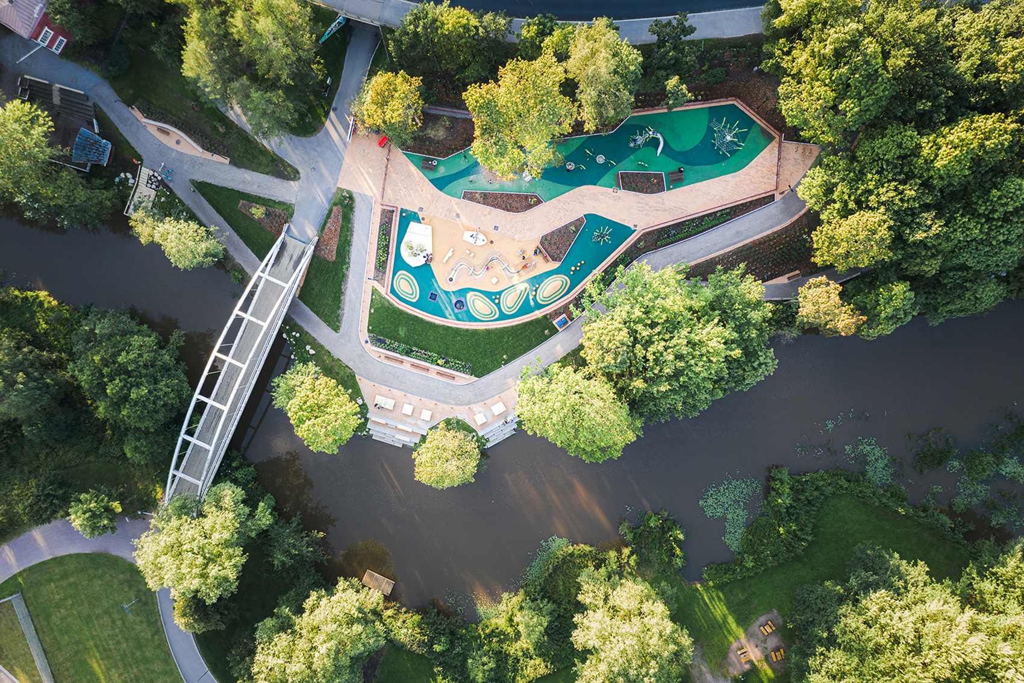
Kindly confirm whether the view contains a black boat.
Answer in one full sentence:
No, I find no black boat anywhere in the image.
